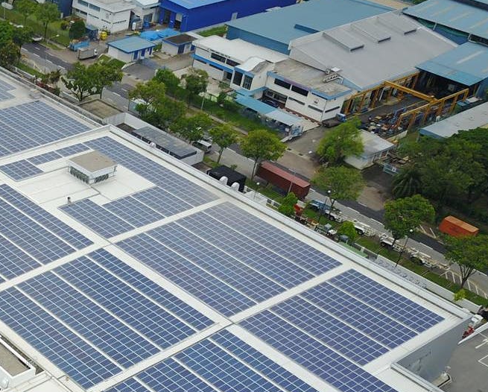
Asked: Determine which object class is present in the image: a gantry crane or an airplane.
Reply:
gantry crane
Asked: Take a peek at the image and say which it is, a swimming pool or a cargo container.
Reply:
cargo container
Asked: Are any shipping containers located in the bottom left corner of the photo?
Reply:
No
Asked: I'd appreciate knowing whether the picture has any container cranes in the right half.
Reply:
Yes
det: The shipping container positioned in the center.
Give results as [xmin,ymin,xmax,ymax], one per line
[256,156,317,195]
